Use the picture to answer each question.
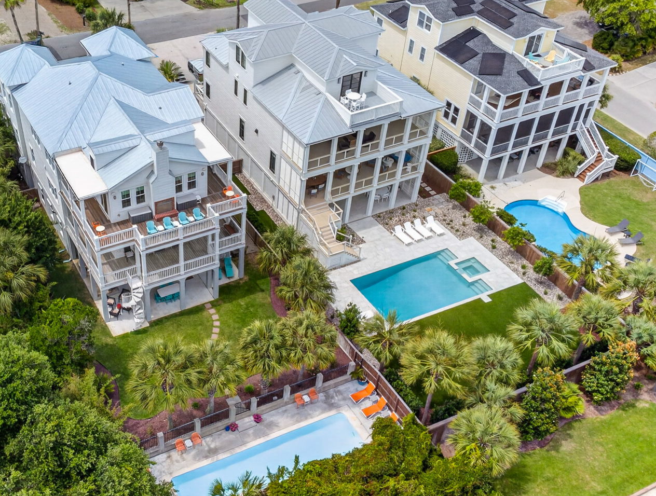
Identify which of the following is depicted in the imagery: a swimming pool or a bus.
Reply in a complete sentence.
The one in the frame is a swimming pool.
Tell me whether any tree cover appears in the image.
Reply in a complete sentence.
Yes, there is tree cover in the image.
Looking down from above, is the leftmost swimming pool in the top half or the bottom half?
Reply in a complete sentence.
You can find the leftmost swimming pool in the bottom half.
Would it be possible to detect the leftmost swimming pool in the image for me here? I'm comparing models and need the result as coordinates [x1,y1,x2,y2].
[156,404,391,496]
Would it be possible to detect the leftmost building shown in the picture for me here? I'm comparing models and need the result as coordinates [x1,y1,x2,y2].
[0,24,250,324]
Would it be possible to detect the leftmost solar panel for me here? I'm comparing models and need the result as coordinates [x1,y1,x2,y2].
[389,4,411,22]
